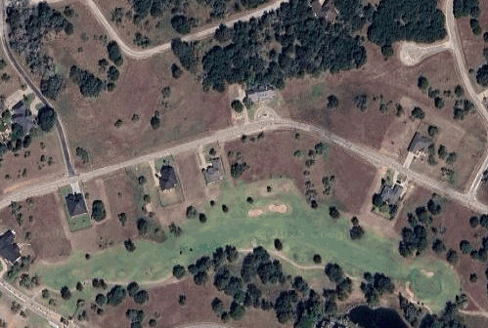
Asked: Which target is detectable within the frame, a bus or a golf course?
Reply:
golf course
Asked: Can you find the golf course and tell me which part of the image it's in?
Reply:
bottom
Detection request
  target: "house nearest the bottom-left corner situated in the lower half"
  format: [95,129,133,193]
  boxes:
[0,231,20,262]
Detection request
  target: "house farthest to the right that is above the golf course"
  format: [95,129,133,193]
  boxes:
[406,133,432,153]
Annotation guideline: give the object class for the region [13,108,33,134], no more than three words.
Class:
house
